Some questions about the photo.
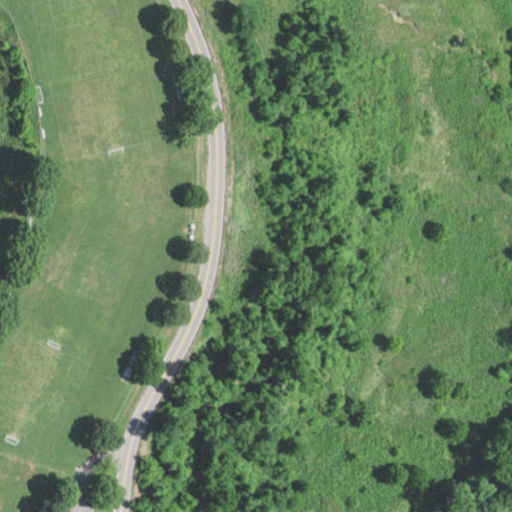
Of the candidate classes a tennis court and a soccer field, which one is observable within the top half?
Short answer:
soccer field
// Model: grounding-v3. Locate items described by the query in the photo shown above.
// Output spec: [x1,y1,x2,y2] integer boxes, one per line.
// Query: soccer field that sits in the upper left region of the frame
[30,0,166,162]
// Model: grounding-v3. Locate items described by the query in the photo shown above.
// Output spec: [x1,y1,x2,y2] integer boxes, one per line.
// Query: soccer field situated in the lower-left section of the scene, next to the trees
[0,328,92,457]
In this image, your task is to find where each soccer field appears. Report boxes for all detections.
[30,0,166,162]
[0,328,92,457]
